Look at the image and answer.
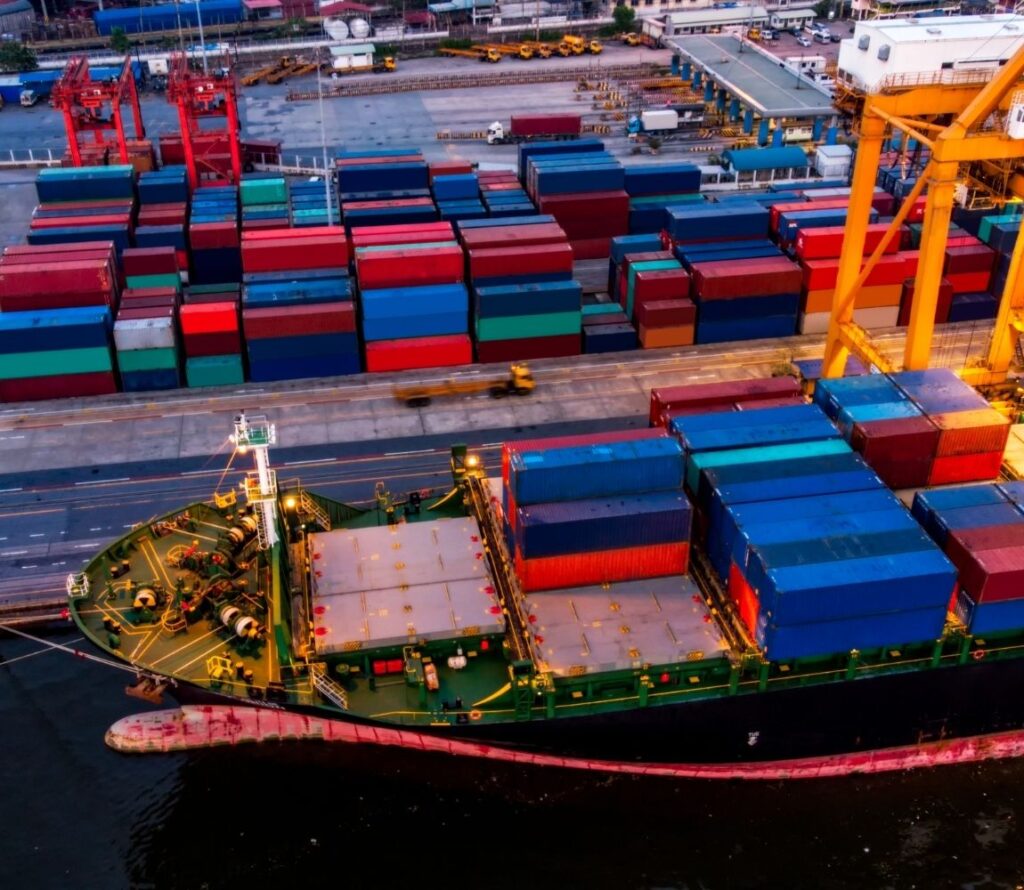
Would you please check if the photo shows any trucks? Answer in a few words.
Yes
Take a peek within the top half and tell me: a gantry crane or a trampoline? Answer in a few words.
gantry crane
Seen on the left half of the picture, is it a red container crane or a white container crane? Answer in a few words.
red container crane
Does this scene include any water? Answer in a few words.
Yes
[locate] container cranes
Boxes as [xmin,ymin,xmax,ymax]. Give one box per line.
[804,0,1024,409]
[49,50,143,169]
[160,49,240,192]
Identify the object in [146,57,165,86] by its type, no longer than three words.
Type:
vehicle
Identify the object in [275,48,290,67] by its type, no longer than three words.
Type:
vehicle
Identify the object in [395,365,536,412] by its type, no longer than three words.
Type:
truck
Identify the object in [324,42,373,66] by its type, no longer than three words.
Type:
shed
